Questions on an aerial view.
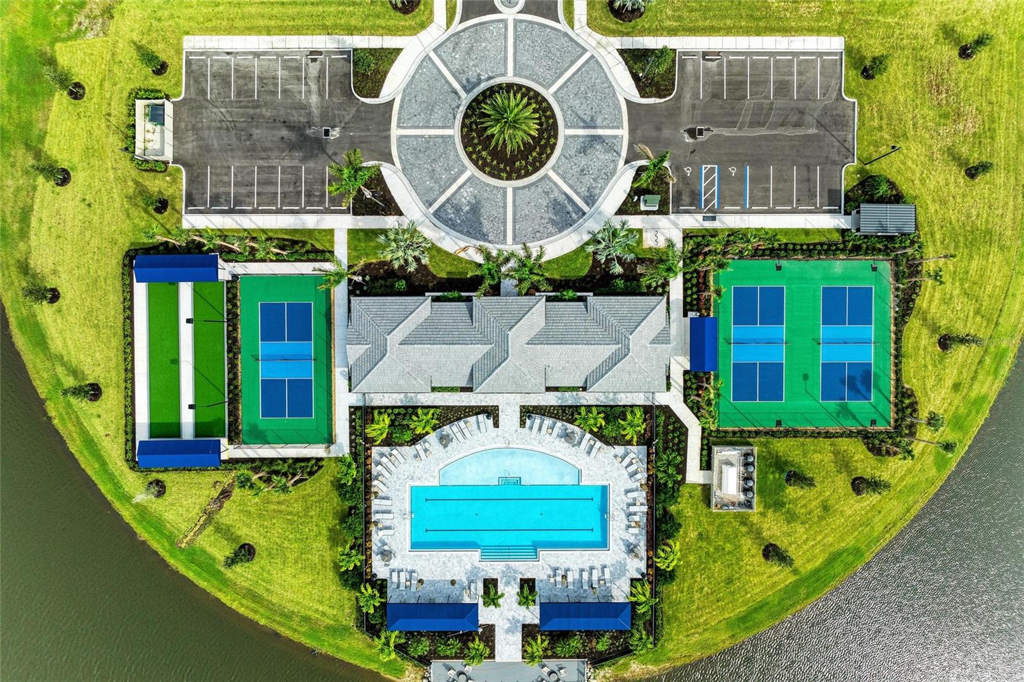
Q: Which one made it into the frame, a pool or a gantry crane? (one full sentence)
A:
Of the two, only a pool appears.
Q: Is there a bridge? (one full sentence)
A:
No, there isn't any bridge down there.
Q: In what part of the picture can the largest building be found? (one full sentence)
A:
The largest building sits in the center section of the image.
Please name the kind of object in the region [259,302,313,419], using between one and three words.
sports court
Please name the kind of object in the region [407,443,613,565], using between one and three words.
swimming pool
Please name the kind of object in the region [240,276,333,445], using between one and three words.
sports court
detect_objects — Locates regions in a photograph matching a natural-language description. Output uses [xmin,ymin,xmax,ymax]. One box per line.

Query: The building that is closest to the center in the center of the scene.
[344,295,673,394]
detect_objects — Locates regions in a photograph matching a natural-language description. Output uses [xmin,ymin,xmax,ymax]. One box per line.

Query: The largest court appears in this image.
[713,260,892,427]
